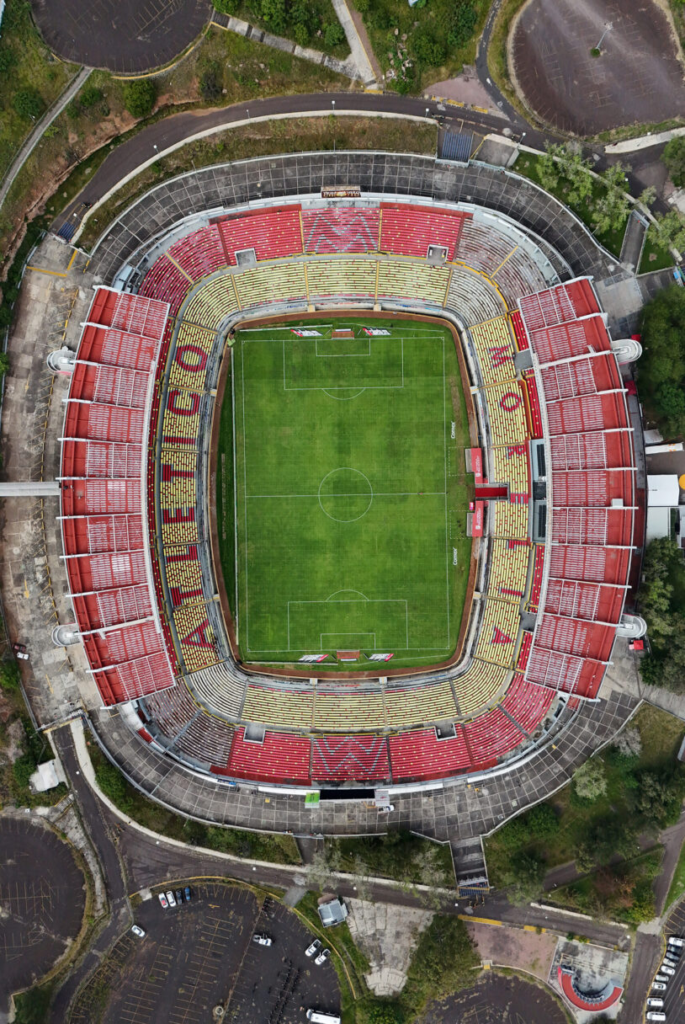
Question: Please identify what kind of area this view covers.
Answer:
sports ground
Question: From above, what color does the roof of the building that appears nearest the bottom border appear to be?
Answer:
red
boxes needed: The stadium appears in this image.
[49,192,645,797]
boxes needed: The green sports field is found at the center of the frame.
[209,310,480,678]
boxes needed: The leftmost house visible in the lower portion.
[30,756,63,792]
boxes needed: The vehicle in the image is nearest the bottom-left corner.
[131,926,144,938]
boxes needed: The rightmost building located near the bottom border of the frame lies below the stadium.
[556,965,624,1012]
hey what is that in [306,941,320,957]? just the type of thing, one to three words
vehicle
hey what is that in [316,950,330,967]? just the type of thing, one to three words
vehicle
